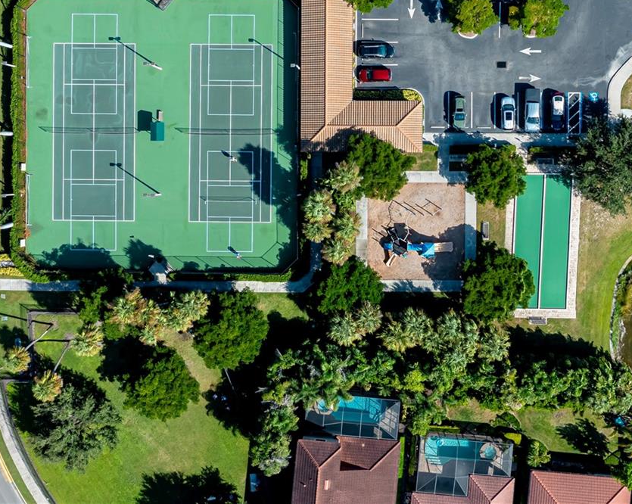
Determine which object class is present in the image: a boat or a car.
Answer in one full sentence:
Visible in the photo is a car.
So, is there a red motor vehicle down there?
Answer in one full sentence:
Yes, a red motor vehicle is visible in the scene.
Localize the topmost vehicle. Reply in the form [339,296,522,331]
[357,40,393,58]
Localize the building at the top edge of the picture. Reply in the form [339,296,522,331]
[299,0,425,153]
